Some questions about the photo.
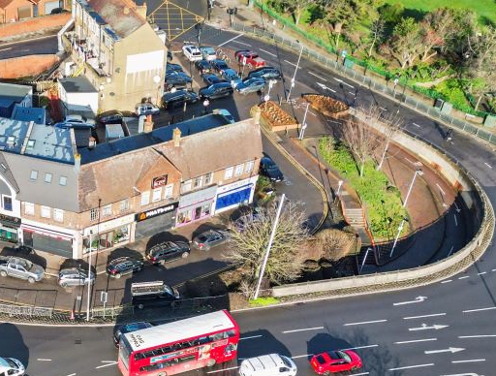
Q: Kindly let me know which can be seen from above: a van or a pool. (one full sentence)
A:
The image shows a van.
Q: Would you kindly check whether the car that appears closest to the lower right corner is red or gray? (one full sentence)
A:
The car that appears closest to the lower right corner is red.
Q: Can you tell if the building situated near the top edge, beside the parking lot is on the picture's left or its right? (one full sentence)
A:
The building situated near the top edge, beside the parking lot appears in the left half of the scene.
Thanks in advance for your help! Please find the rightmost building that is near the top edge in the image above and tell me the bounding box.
[60,0,174,114]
